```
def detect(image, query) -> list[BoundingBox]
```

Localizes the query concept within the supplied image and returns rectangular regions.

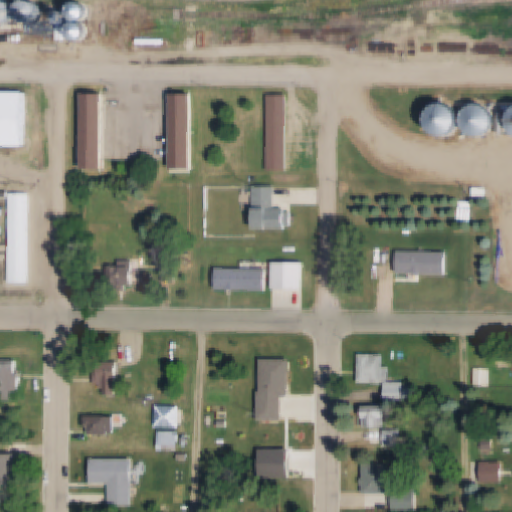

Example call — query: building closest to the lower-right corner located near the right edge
[476,462,500,483]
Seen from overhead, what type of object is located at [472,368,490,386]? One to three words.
building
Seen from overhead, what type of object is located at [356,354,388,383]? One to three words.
house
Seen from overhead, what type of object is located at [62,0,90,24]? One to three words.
silo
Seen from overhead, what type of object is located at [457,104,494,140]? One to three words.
silo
